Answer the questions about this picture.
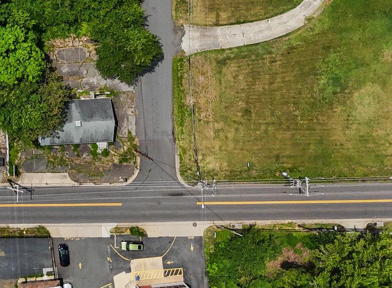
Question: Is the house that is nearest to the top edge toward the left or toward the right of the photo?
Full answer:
The house that is nearest to the top edge sits on the left side.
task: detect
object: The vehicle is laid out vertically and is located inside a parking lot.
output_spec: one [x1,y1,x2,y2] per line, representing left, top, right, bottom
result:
[58,244,71,268]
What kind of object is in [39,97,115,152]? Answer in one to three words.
house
